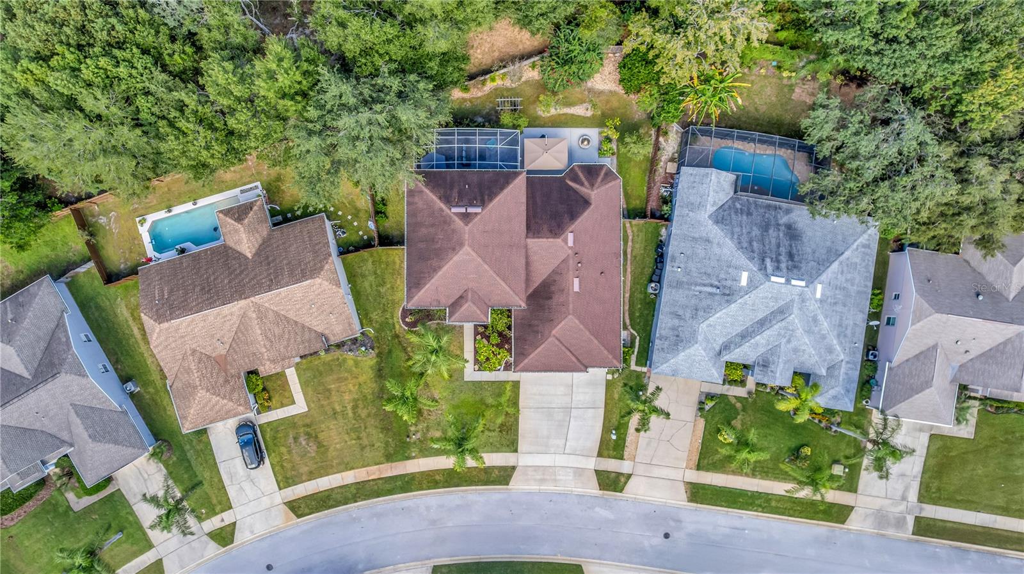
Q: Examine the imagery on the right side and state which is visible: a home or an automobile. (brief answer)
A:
home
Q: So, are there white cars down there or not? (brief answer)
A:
No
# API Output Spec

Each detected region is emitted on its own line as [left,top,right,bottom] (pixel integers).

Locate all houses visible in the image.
[0,273,157,494]
[138,195,373,435]
[871,222,1024,428]
[648,166,880,412]
[404,162,623,373]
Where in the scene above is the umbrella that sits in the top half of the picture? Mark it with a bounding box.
[524,127,568,170]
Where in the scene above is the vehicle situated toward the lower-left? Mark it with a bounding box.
[234,421,266,472]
